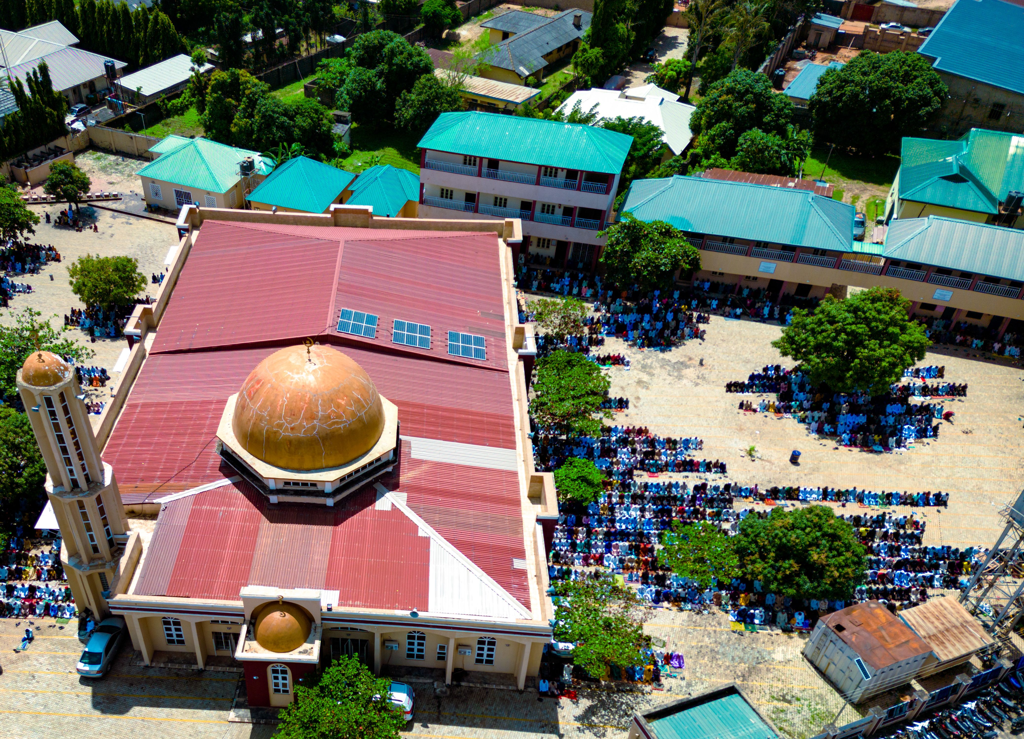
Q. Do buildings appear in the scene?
Yes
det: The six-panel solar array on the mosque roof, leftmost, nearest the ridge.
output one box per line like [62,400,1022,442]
[334,308,381,338]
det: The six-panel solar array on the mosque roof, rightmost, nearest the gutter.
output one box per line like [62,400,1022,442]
[445,331,491,360]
